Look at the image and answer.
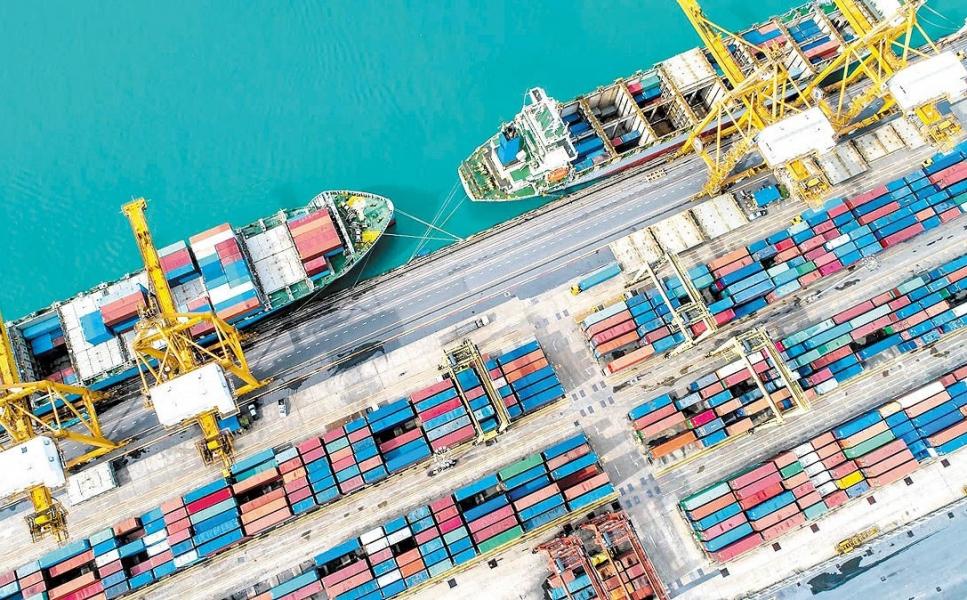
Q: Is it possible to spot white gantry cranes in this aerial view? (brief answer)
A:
Yes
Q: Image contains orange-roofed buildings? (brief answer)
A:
No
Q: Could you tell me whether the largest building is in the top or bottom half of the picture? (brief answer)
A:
bottom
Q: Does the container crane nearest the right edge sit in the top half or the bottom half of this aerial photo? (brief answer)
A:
top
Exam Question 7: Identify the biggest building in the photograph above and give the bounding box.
[68,460,122,503]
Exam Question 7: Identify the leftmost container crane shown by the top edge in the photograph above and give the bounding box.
[670,0,836,211]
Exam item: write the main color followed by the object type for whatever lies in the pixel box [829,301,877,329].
pink shipping container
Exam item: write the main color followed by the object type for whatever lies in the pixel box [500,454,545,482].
green shipping container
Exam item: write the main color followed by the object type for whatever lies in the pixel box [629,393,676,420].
blue shipping container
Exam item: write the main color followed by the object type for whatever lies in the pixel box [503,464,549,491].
blue shipping container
